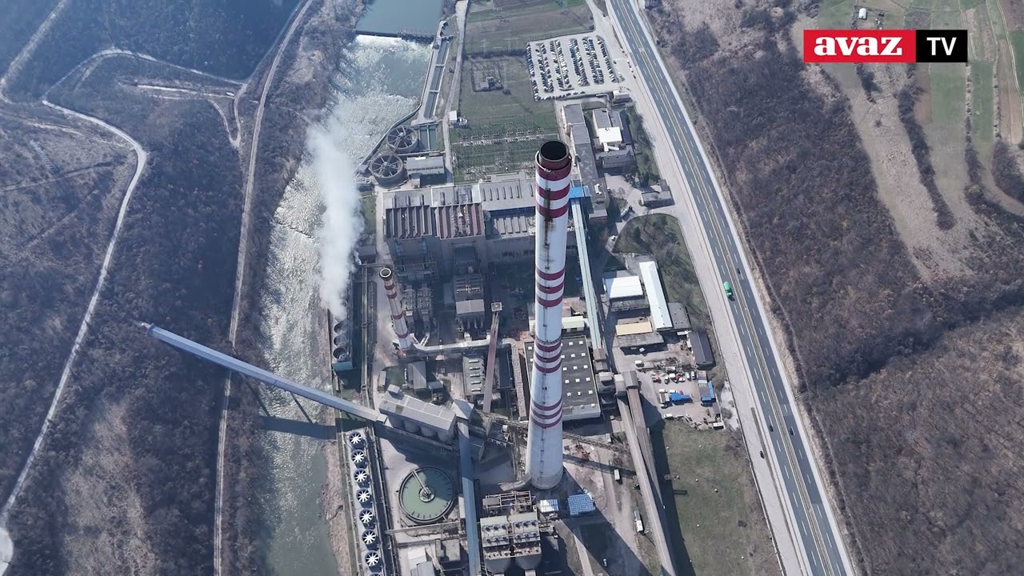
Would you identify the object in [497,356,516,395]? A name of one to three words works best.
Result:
shed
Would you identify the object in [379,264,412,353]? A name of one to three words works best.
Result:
chimney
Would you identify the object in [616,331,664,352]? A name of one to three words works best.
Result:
building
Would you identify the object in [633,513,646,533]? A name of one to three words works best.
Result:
vehicle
